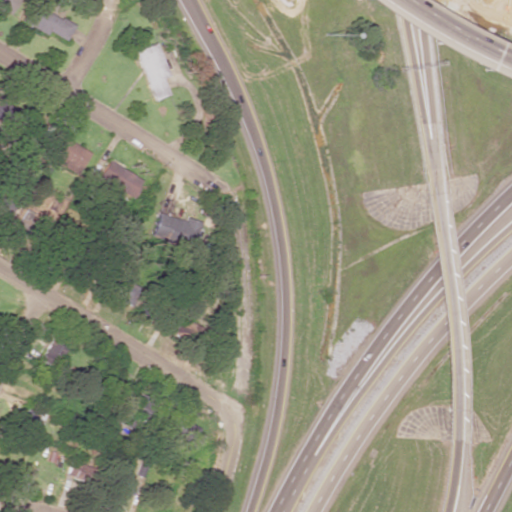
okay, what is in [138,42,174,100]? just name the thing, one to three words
house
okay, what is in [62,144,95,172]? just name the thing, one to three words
house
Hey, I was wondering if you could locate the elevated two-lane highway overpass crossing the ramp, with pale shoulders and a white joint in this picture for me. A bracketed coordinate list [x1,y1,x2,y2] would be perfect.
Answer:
[378,0,512,80]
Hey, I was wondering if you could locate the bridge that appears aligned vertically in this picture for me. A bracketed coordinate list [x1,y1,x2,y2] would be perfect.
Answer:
[426,183,474,440]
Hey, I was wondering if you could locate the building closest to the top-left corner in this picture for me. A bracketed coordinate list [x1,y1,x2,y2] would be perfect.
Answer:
[36,12,78,42]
